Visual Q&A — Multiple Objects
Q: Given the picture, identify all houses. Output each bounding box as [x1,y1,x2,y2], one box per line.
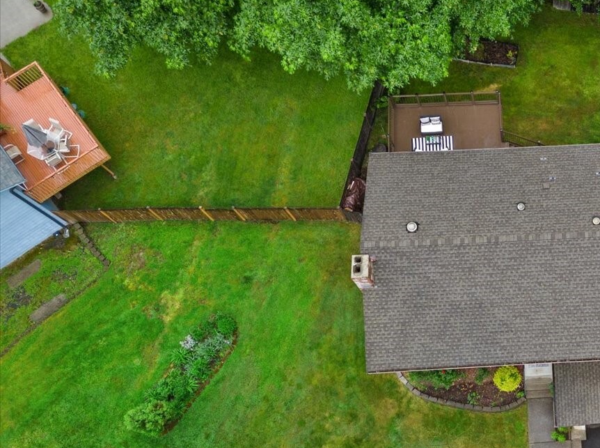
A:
[351,141,600,427]
[0,140,67,269]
